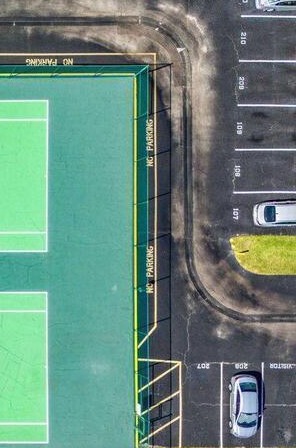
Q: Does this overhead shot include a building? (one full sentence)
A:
No, no building is visible in the scene.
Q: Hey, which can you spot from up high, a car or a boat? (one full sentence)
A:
There is a car in the scene.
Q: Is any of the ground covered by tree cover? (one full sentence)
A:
No, there's no tree cover in this view.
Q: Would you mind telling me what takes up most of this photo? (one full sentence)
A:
Most of the picture is covered by paved ground.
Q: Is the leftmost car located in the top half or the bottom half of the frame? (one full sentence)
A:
The bottom half of the photo is where the leftmost car is.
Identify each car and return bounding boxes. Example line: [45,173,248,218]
[227,374,261,438]
[256,0,296,12]
[253,200,296,227]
